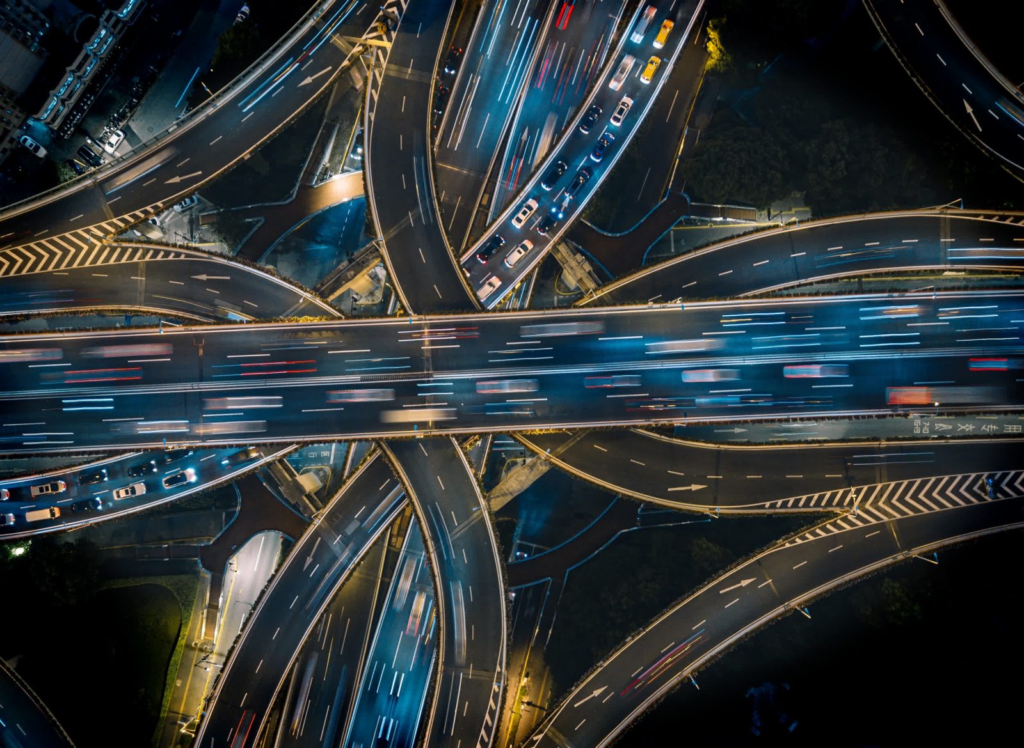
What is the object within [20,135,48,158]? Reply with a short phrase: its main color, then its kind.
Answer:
blue car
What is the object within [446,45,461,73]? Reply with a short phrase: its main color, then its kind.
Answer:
black car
